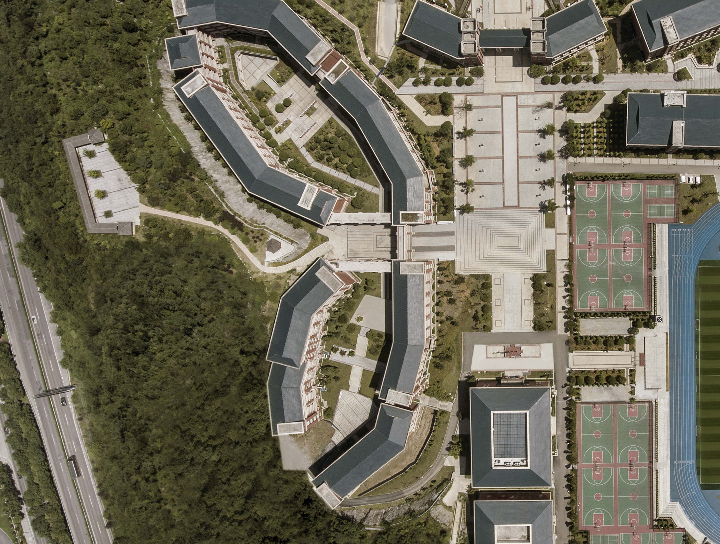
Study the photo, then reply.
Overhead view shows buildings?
Yes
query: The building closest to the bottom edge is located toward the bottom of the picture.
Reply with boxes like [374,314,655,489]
[473,493,554,544]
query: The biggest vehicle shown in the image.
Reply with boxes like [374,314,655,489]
[65,455,80,481]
